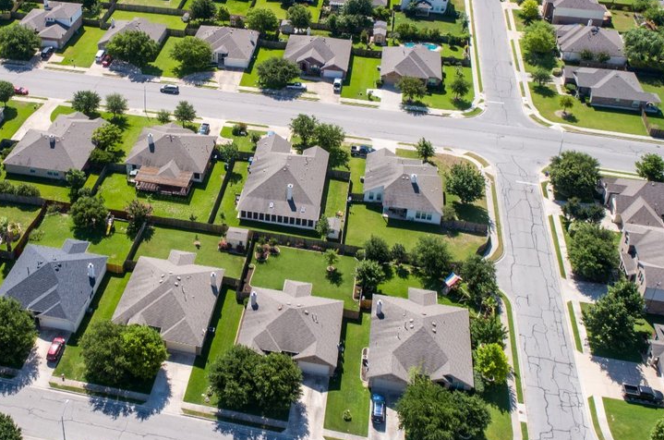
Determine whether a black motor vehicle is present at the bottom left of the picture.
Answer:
No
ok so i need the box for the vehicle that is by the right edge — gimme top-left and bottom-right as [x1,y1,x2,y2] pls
[622,383,664,404]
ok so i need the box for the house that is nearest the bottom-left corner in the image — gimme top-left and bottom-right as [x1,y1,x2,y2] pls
[0,238,107,335]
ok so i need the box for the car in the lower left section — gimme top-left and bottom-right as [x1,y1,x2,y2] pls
[47,336,66,361]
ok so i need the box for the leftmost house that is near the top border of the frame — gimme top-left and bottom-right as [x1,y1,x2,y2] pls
[18,0,83,47]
